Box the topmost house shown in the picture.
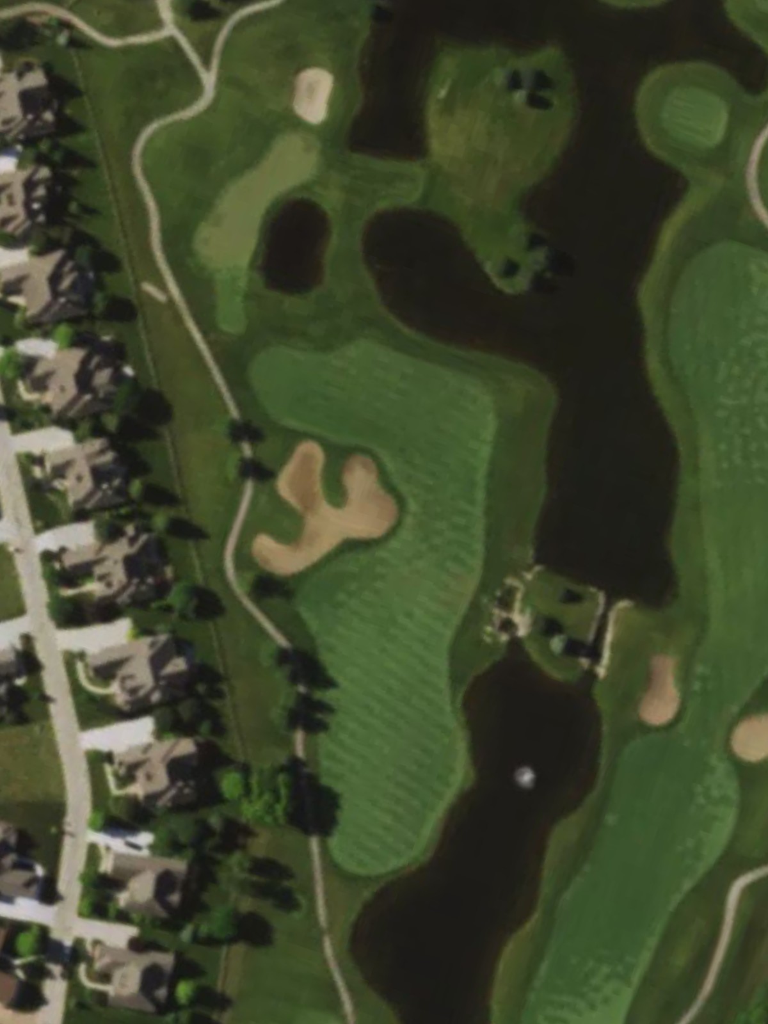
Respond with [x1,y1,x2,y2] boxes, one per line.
[0,57,62,144]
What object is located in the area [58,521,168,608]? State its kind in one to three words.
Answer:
house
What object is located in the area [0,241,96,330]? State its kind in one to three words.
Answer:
house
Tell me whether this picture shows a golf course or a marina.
golf course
